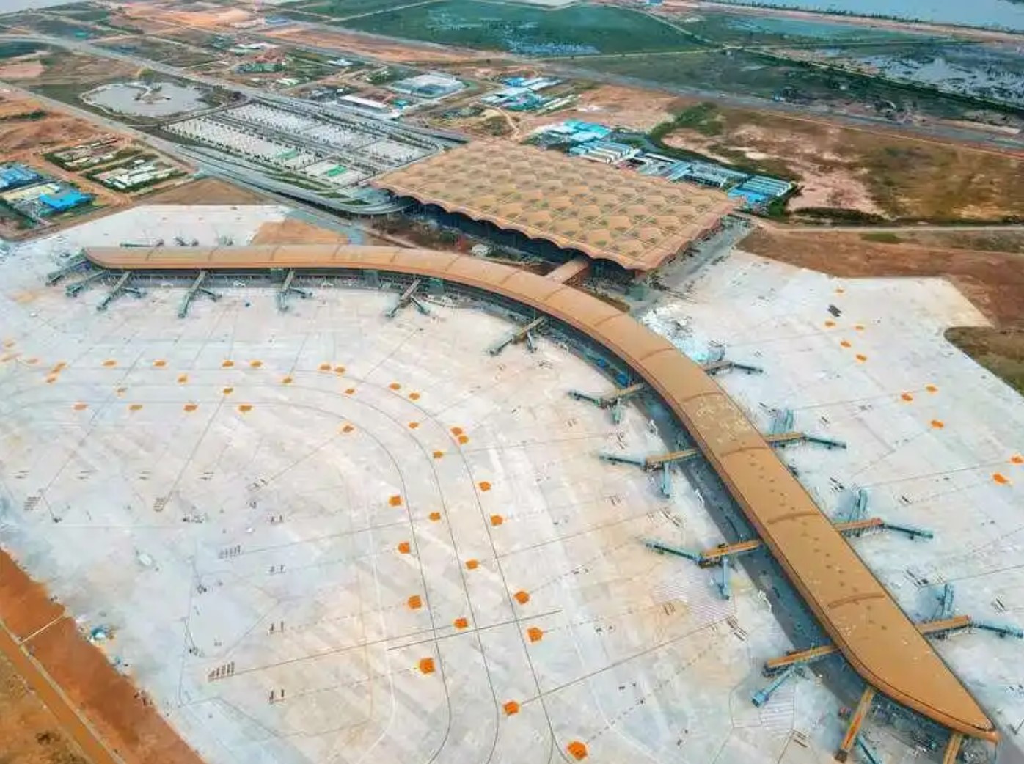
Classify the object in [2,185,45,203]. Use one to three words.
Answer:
shed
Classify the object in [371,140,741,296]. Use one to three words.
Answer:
building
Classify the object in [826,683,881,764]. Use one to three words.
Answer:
jet bridge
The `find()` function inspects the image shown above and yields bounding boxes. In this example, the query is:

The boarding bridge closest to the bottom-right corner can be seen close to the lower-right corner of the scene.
[929,728,966,764]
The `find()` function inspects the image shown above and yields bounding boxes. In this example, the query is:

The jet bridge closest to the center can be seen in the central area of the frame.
[492,315,549,357]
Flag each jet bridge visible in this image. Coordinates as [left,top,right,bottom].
[179,271,221,320]
[279,269,313,314]
[492,315,549,357]
[826,683,881,764]
[66,269,113,297]
[751,642,842,708]
[917,584,1024,643]
[599,448,703,499]
[644,539,769,601]
[833,490,934,544]
[97,270,142,311]
[176,236,199,245]
[764,411,847,454]
[929,728,966,764]
[702,348,762,378]
[46,260,96,287]
[569,382,646,425]
[387,278,431,319]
